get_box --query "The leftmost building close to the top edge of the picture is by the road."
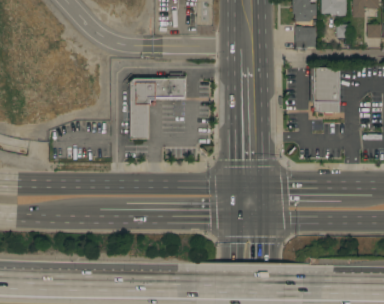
[198,0,213,26]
